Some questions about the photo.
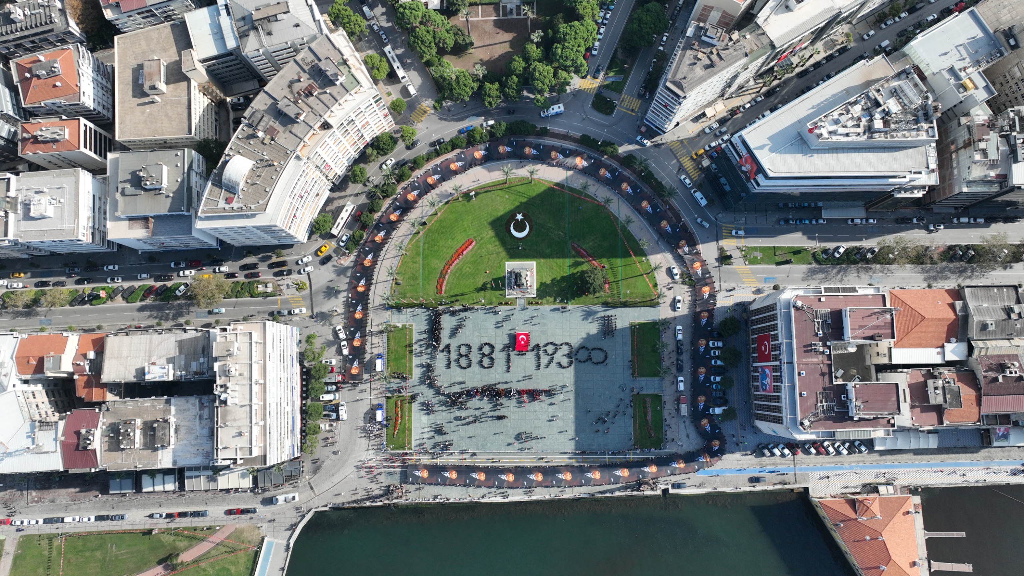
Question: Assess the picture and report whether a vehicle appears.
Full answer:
Yes, a vehicle can be made out from above.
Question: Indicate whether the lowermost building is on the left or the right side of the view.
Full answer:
The lowermost building appears in the right half of the scene.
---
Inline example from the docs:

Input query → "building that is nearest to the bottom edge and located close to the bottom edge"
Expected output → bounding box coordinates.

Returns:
[805,494,929,576]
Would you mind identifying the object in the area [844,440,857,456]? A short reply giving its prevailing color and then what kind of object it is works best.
black vehicle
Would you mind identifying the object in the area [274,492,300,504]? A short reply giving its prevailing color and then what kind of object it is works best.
white vehicle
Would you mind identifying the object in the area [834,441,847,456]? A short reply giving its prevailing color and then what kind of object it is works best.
white vehicle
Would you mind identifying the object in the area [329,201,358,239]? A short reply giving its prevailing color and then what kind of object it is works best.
white bus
